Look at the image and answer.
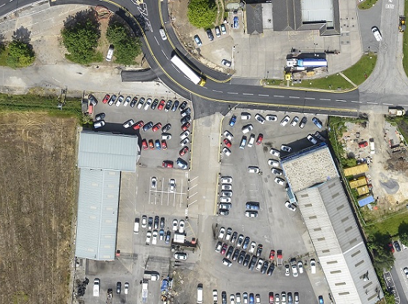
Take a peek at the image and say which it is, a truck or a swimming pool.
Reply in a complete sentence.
I can see a truck in this picture.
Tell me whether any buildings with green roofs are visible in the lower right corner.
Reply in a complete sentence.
No, there is no building with a green roof in the lower right corner.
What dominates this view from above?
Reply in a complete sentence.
Most of the picture is covered by paved ground.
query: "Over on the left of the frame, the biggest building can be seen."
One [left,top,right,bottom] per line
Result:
[76,128,139,260]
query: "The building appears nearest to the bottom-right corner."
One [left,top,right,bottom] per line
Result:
[279,140,387,304]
